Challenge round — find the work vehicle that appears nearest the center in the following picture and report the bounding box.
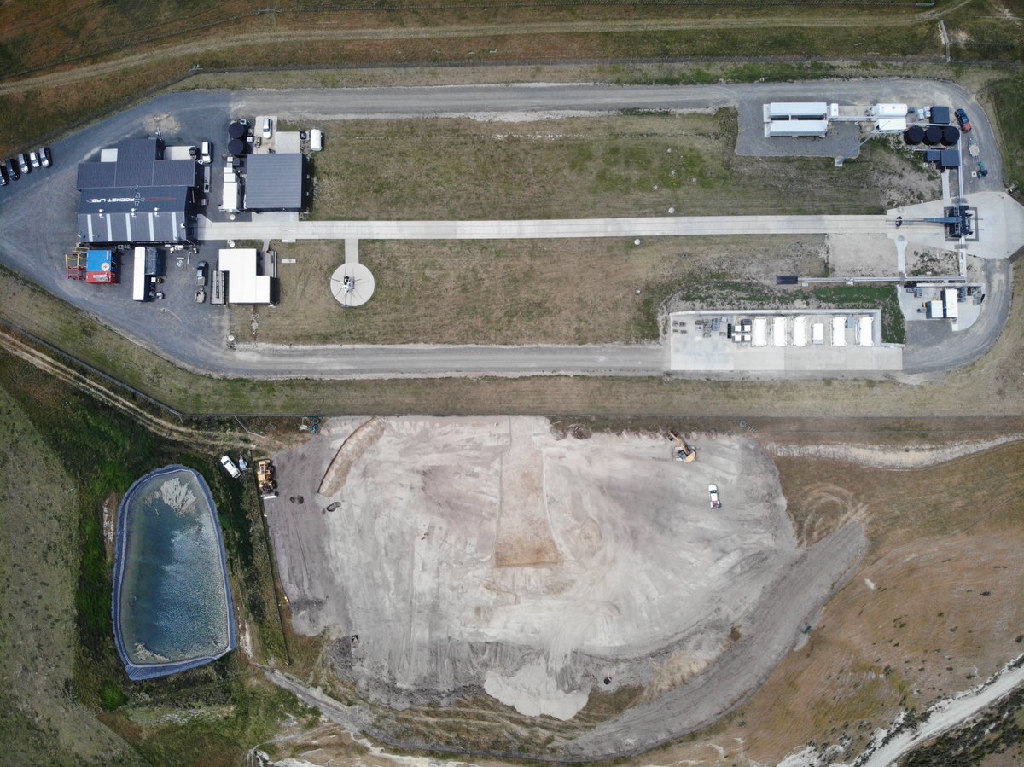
[666,429,696,463]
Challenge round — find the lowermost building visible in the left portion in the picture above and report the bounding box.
[219,249,274,306]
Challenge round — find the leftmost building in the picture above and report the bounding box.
[76,137,202,247]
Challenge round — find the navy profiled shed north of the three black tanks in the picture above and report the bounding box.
[925,106,949,127]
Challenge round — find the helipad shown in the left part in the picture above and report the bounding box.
[330,239,375,307]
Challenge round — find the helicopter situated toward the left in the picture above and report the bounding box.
[328,267,362,307]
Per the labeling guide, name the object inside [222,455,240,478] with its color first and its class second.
white vehicle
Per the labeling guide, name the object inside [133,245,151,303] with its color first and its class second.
white trailer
